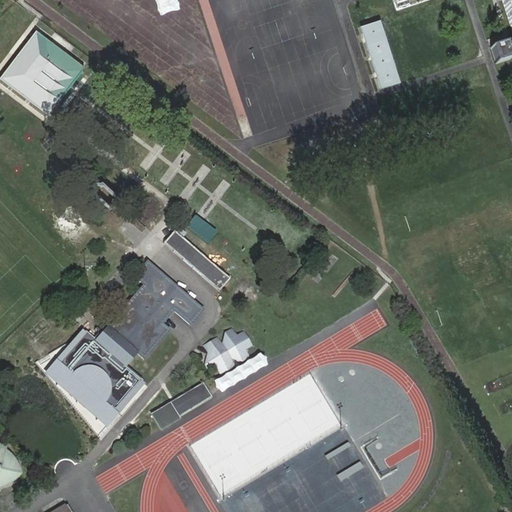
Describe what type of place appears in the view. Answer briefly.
sports ground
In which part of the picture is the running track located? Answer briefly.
bottom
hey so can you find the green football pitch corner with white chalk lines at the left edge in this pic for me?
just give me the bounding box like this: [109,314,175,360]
[0,200,66,337]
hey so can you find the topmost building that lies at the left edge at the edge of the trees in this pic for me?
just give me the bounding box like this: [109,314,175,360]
[0,30,82,114]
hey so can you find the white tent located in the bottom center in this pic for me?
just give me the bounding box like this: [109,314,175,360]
[215,356,264,394]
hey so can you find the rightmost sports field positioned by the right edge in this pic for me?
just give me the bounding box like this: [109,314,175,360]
[388,158,512,362]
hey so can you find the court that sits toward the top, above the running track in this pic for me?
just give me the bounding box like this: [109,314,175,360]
[212,0,364,136]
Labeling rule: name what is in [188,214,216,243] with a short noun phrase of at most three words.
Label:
shed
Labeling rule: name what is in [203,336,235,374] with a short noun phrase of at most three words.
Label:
house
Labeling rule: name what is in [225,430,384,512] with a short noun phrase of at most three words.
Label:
basketball court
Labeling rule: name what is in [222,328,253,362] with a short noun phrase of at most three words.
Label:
house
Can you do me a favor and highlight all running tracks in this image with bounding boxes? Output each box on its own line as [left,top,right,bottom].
[97,308,438,512]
